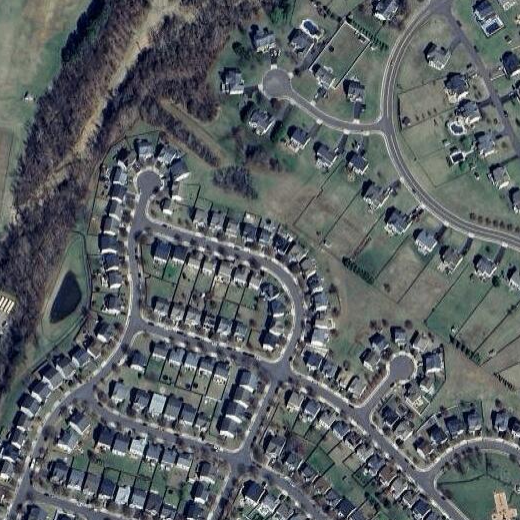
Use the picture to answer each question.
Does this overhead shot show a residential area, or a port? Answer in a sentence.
The area seen from above is a residential area.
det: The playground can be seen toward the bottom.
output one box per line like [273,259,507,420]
[493,493,517,520]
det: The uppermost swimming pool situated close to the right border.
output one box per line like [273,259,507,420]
[482,18,501,35]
